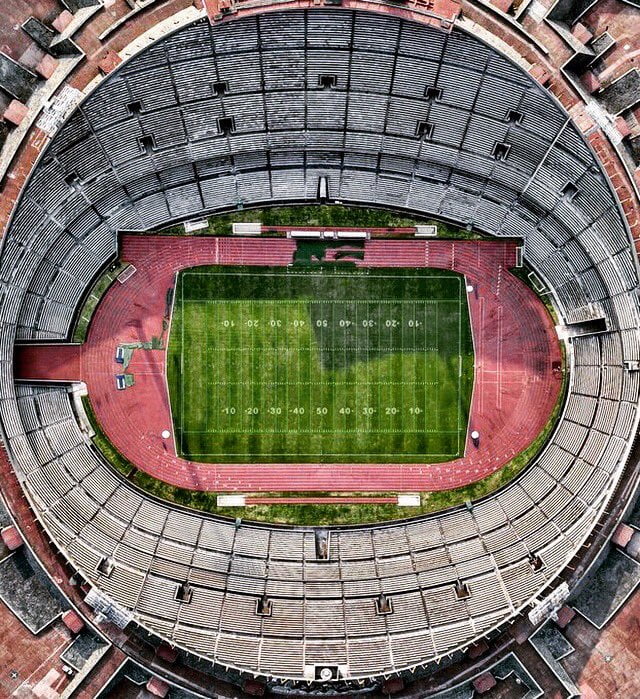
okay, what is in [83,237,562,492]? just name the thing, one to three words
running track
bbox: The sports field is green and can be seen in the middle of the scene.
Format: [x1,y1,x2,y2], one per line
[168,266,474,463]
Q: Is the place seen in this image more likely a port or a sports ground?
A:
sports ground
